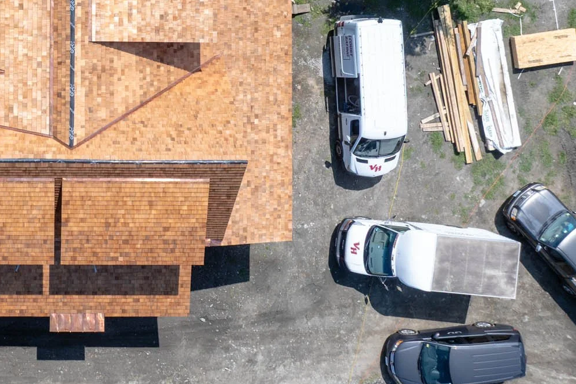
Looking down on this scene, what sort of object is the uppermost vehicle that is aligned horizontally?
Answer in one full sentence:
From above, the uppermost vehicle that is aligned horizontally can be identified as a truck.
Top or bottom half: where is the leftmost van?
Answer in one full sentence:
Seen from above, the leftmost van lies in the top half of the view.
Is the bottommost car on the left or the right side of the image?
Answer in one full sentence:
It is on the right.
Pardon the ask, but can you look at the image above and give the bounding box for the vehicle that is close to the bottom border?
[383,320,533,384]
